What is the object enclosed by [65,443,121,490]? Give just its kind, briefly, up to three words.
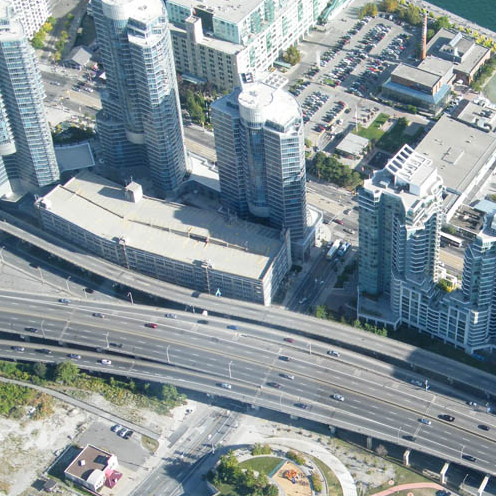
building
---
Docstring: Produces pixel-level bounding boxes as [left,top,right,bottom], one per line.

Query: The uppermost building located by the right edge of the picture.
[422,28,493,81]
